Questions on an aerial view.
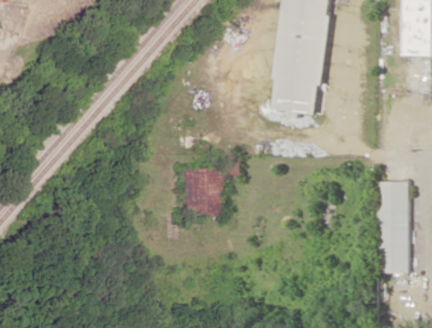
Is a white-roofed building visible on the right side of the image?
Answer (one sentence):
Yes, a white-roofed building is visible on the right side of the image.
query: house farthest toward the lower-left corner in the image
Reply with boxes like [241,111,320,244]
[184,170,224,215]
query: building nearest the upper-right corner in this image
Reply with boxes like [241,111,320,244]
[399,0,432,57]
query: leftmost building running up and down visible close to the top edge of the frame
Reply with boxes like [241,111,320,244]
[272,0,330,114]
